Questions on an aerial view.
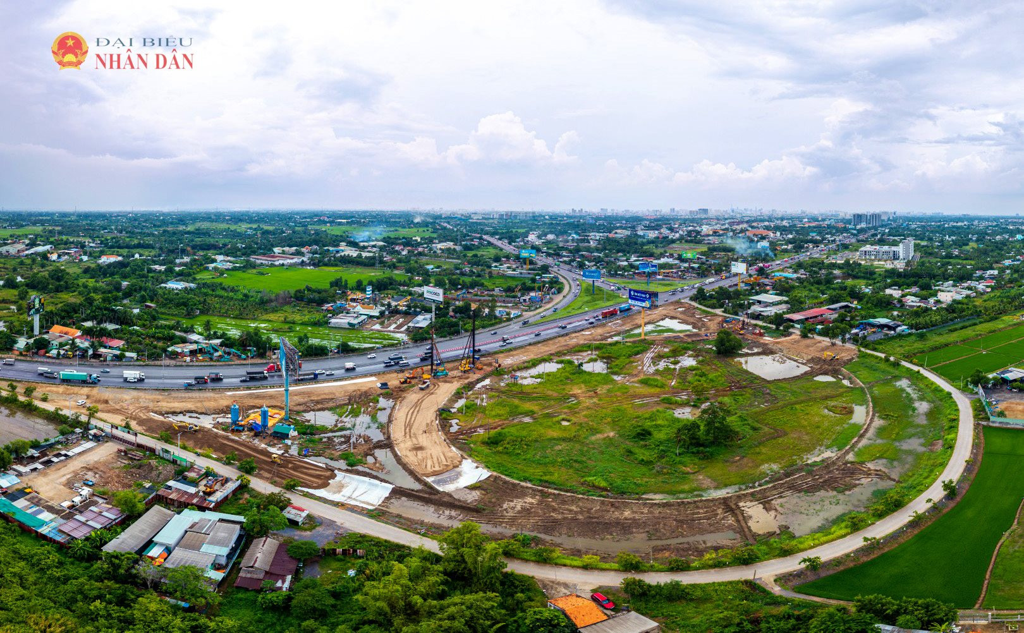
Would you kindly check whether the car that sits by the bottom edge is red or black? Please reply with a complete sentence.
In this view, the car that sits by the bottom edge is red.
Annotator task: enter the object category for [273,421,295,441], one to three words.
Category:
building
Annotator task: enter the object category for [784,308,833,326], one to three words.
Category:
building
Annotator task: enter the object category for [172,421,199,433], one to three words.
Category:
vehicle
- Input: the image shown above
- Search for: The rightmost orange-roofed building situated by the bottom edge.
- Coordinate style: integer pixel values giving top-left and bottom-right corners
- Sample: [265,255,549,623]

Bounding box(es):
[553,593,608,633]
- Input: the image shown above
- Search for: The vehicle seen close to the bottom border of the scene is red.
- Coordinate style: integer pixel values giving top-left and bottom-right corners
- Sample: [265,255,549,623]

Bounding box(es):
[591,586,617,606]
